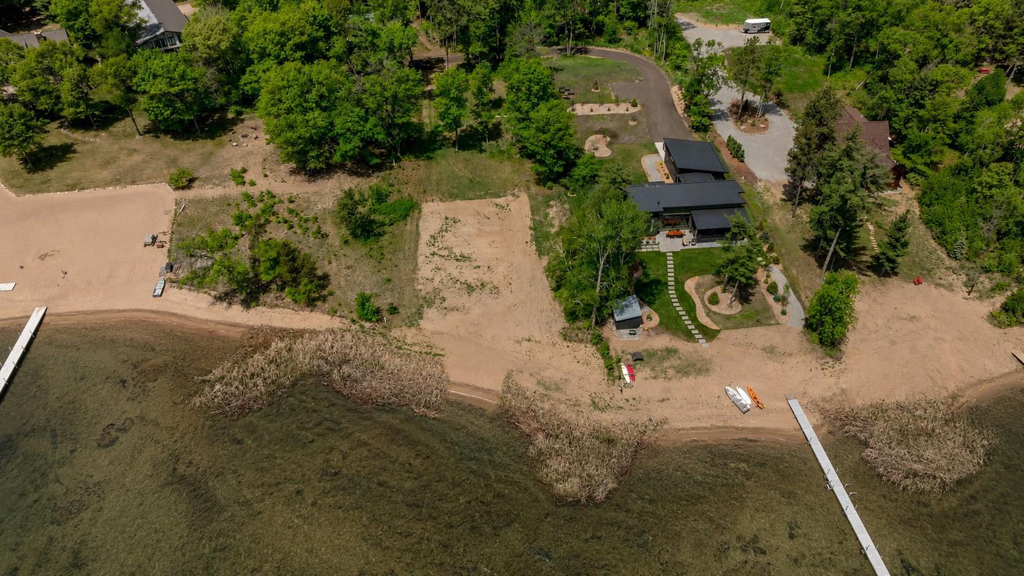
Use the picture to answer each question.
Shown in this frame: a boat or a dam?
boat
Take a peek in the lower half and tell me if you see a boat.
Yes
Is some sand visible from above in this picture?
Yes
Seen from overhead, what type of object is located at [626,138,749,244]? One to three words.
house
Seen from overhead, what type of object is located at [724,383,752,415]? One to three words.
boat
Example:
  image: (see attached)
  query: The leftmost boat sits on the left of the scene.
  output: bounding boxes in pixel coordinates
[151,274,164,296]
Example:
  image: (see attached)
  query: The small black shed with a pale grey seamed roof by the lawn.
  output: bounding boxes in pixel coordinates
[611,294,646,331]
